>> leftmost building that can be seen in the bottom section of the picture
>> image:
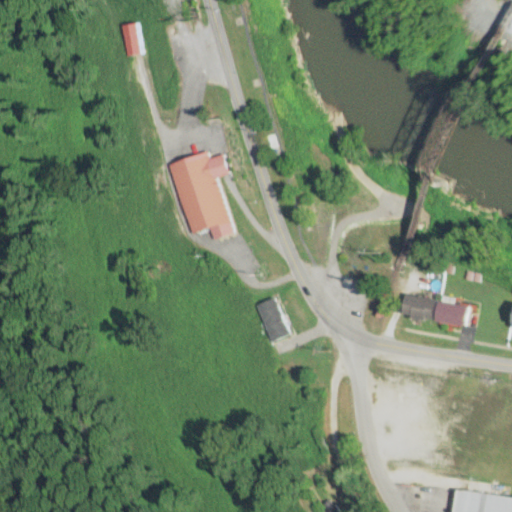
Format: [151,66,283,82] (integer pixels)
[256,298,292,342]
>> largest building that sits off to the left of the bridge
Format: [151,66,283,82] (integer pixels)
[170,152,237,241]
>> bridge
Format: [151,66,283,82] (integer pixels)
[396,6,512,265]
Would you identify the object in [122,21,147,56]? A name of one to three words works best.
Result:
barn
